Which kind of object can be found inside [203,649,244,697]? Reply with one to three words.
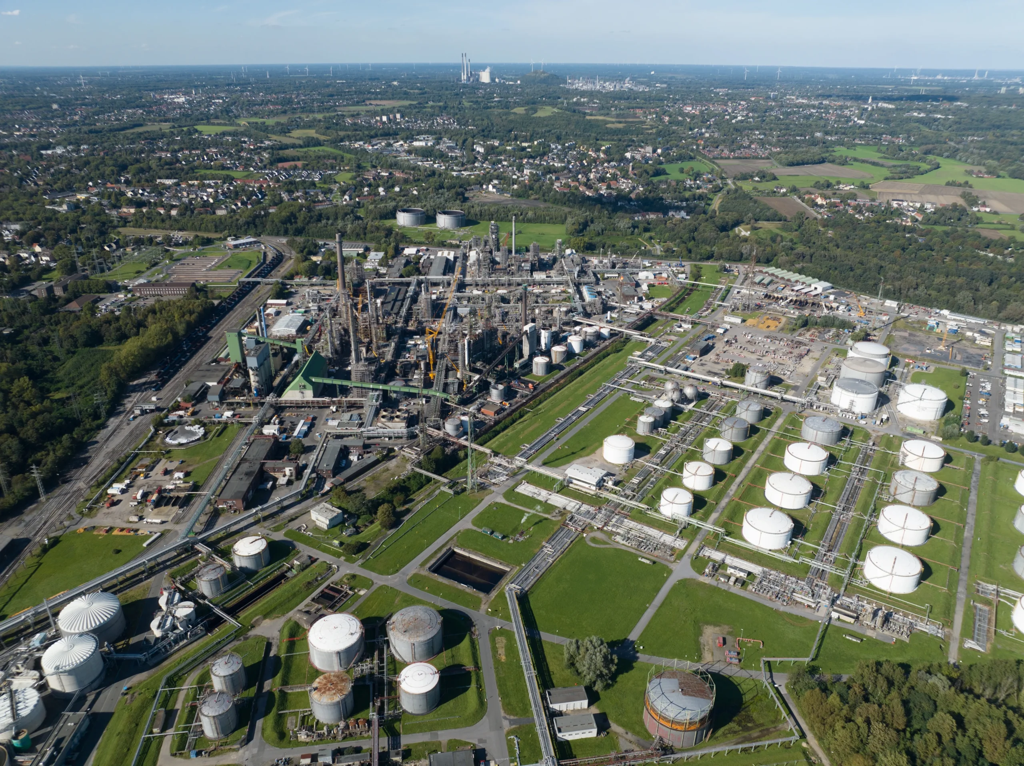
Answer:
storage tank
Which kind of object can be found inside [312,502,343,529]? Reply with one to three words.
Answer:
building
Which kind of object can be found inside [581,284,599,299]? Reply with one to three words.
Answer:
cooling tower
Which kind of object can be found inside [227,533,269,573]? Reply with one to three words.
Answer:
storage tank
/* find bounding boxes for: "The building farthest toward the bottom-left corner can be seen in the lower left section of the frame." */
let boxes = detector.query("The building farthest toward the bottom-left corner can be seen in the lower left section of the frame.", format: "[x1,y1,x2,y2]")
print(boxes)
[28,712,94,766]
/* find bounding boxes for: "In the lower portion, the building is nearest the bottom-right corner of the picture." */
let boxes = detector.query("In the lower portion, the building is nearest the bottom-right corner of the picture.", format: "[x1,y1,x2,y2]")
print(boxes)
[830,604,858,630]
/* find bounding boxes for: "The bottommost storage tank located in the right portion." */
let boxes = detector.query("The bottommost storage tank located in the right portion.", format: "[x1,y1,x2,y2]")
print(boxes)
[651,665,721,750]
